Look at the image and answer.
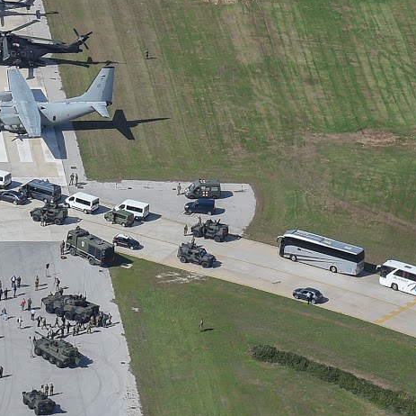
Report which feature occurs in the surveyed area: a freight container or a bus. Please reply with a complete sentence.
There is a bus in the scene.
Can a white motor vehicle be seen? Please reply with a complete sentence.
Yes, there's a white motor vehicle here.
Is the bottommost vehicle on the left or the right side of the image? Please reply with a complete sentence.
The bottommost vehicle is on the left side of the image.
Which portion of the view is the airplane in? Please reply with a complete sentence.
The airplane is located in the top left region of the scene.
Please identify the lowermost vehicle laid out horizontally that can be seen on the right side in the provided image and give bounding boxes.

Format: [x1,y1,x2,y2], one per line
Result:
[293,287,325,303]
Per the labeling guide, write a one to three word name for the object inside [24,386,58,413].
vehicle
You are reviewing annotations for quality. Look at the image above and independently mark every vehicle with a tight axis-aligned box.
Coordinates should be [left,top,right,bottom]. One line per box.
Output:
[375,256,416,294]
[45,289,102,321]
[24,386,58,413]
[179,243,217,267]
[0,190,27,204]
[111,233,143,249]
[66,228,113,264]
[273,227,360,273]
[31,200,68,224]
[0,169,12,189]
[293,287,325,303]
[184,198,219,215]
[16,175,62,202]
[64,191,100,213]
[115,197,150,219]
[104,209,136,226]
[34,327,85,366]
[192,214,228,241]
[183,176,222,198]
